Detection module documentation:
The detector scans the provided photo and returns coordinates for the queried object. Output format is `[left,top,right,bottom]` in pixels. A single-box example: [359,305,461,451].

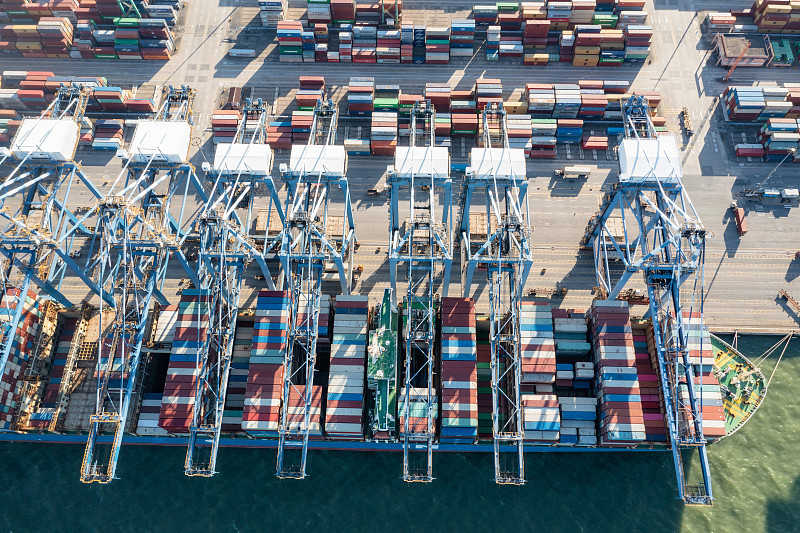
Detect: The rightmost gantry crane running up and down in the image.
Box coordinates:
[578,103,720,505]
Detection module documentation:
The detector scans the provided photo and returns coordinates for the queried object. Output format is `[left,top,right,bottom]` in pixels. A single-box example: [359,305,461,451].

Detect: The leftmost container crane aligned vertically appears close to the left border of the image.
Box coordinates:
[0,78,136,403]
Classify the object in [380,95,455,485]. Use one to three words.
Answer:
container crane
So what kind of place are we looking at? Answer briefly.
port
